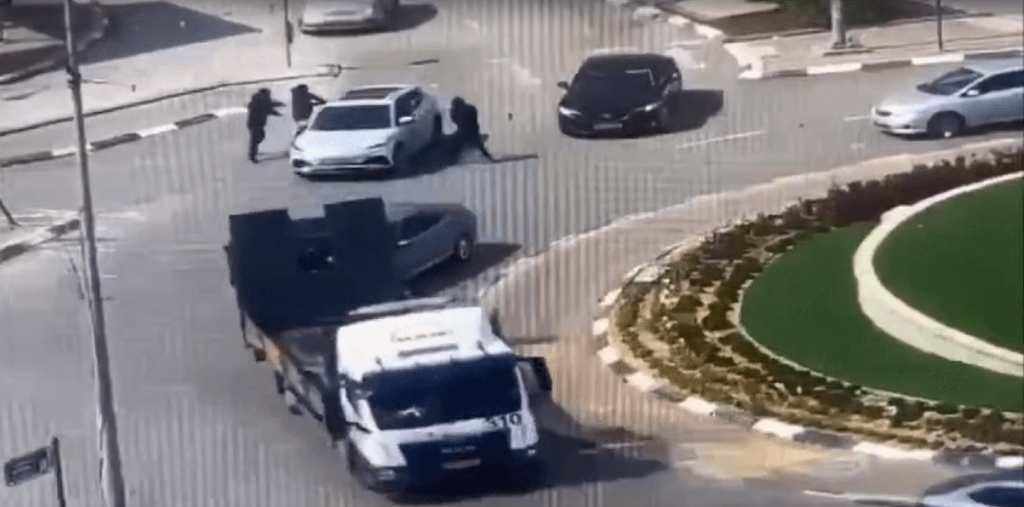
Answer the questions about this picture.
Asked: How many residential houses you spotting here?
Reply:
zero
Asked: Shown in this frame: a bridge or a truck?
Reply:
truck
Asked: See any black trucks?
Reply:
Yes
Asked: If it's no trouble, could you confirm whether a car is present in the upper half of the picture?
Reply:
Yes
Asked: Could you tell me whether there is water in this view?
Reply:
No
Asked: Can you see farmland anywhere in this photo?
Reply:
No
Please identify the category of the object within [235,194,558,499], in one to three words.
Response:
truck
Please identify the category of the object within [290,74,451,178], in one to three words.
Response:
car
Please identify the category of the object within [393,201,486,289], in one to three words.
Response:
car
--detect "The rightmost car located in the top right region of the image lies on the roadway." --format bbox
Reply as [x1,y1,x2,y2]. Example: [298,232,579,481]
[872,53,1024,145]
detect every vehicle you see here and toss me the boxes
[301,0,413,35]
[555,48,683,140]
[393,201,486,289]
[235,194,558,499]
[290,74,451,178]
[872,53,1024,145]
